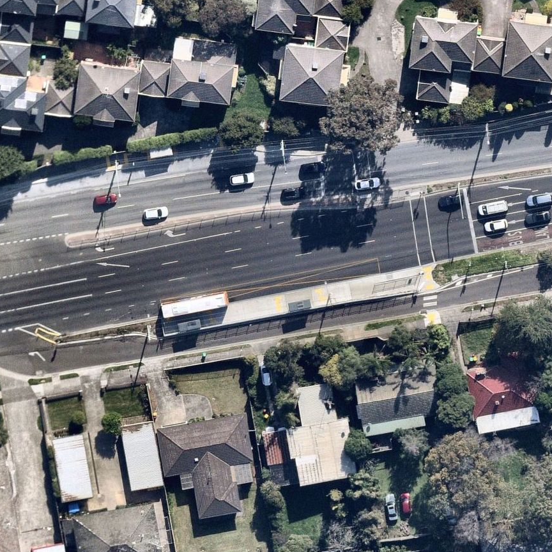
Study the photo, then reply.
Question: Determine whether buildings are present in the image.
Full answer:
Yes, the photo shows a building.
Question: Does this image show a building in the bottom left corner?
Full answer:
Yes, you'll find a building in the bottom left corner.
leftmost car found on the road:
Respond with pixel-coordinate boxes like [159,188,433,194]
[95,193,117,206]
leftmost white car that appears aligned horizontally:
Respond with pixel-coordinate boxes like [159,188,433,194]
[144,207,166,220]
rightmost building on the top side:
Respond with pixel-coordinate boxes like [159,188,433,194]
[503,11,552,83]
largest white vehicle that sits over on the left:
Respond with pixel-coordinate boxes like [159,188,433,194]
[159,297,228,323]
